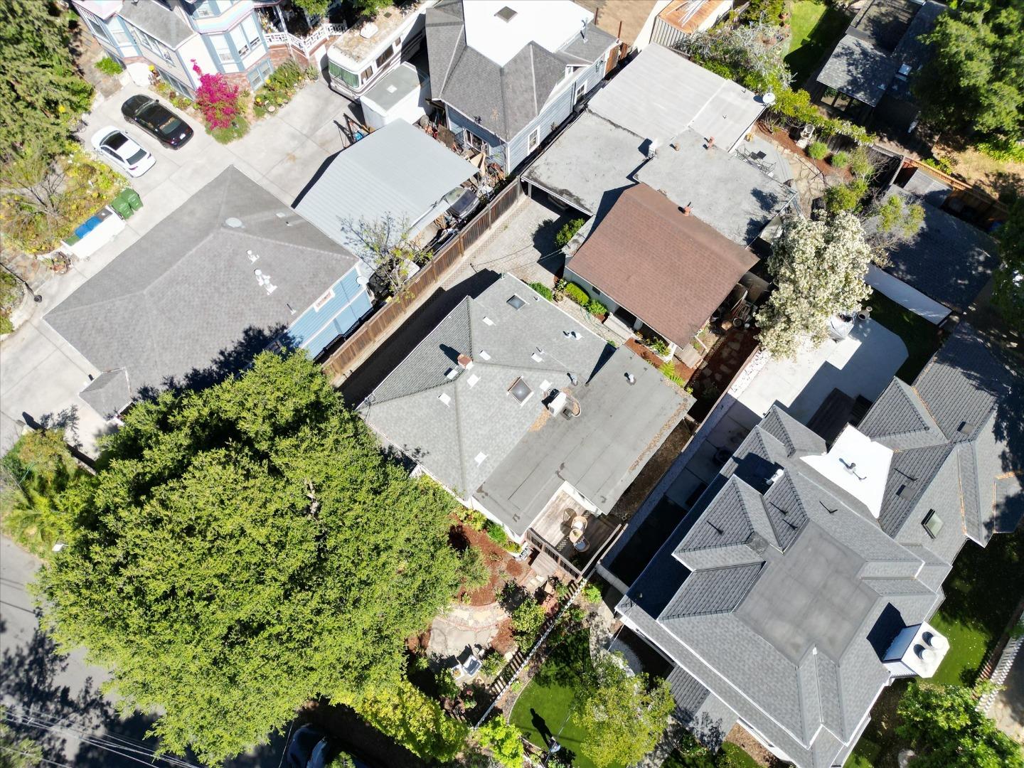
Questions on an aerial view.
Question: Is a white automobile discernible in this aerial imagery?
Yes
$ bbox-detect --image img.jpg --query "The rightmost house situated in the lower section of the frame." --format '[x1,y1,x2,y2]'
[614,335,1024,768]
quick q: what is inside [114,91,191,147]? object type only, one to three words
car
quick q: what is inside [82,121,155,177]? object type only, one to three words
car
